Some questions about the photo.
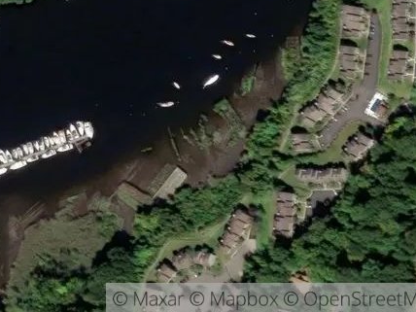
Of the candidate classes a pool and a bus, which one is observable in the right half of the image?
pool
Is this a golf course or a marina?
marina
